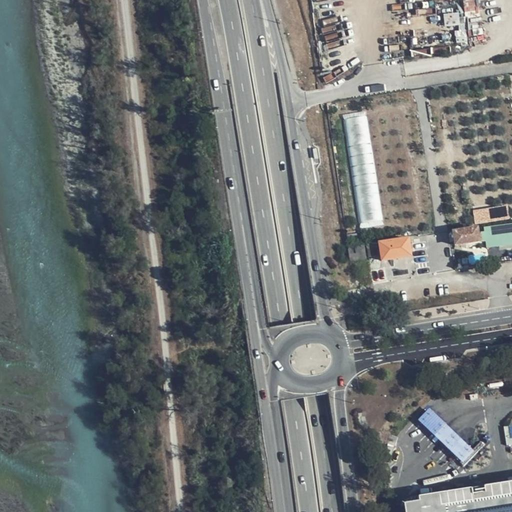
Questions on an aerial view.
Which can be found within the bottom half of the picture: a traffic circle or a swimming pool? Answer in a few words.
traffic circle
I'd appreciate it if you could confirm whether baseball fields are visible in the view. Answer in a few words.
No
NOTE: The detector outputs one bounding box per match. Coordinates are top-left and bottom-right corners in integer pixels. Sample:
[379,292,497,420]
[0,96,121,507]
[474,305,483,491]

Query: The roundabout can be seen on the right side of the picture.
[262,318,355,399]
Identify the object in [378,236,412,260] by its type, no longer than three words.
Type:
house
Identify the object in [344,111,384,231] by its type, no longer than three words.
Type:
greenhouse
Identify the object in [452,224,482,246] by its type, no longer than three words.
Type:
house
